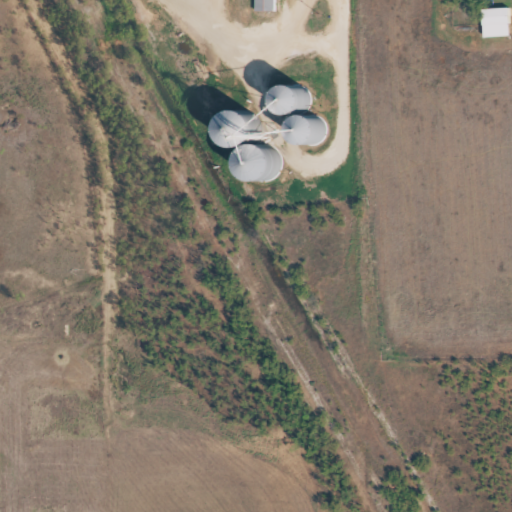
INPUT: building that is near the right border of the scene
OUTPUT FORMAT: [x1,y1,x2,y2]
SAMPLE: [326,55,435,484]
[480,8,512,38]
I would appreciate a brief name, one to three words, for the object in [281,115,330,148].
silo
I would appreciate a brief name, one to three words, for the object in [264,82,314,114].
silo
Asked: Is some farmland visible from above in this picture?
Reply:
Yes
